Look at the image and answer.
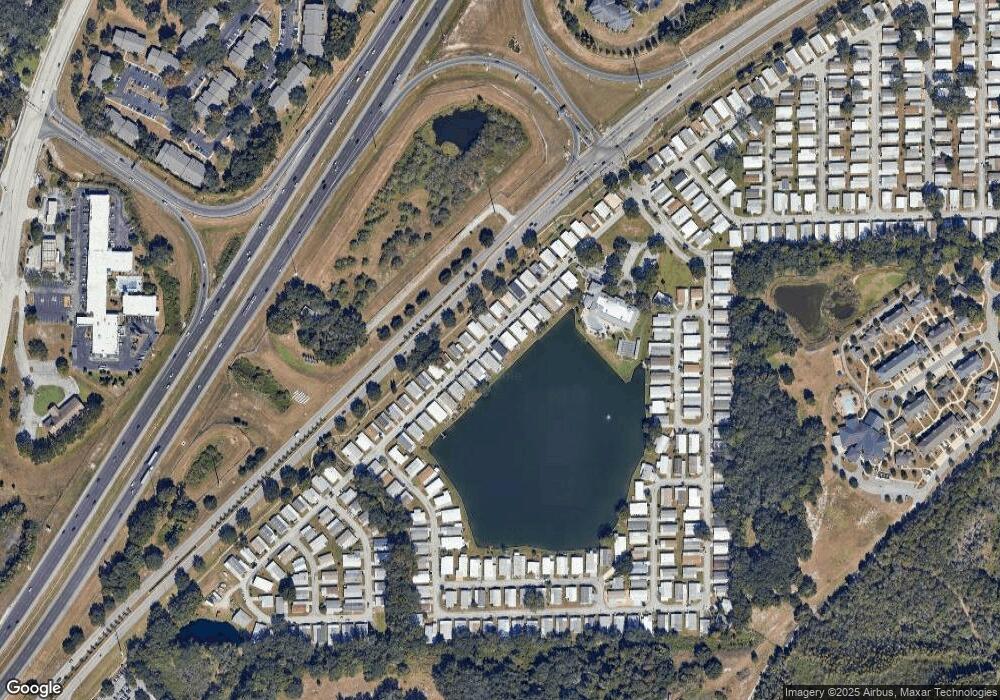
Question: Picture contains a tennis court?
No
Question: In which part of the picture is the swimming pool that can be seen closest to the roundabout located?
right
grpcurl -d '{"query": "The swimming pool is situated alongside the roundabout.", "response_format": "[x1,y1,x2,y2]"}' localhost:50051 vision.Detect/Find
[837,389,859,418]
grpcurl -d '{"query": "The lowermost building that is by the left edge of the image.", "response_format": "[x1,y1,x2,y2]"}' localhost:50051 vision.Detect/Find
[43,394,85,434]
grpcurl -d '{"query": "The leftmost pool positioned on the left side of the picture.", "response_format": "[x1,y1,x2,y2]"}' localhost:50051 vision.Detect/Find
[117,276,141,293]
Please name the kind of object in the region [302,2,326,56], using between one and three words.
building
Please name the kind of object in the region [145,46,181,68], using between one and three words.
building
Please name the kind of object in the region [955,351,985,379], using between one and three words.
house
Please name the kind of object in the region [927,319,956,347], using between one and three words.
house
